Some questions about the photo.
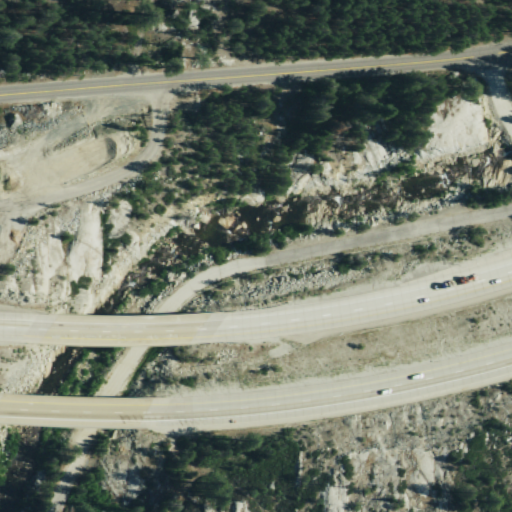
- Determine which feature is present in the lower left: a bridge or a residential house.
bridge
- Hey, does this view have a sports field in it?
No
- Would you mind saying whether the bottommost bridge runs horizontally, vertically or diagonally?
horizontally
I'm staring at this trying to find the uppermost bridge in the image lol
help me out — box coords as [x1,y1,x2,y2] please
[53,313,211,347]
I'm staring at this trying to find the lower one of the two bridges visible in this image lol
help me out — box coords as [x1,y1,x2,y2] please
[8,394,152,428]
